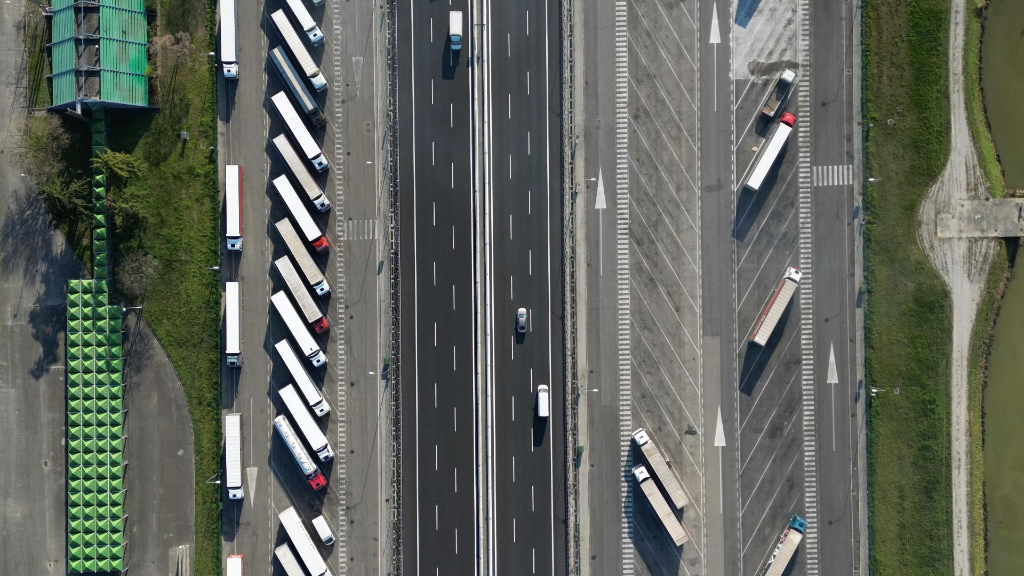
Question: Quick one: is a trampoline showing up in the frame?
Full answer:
No, no trampoline is visible in the view.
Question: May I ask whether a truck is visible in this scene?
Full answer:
Yes, a truck can be made out from above.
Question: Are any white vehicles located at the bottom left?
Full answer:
Yes, you'll find a white vehicle at the bottom left.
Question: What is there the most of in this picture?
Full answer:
For the most part, this view shows paved ground.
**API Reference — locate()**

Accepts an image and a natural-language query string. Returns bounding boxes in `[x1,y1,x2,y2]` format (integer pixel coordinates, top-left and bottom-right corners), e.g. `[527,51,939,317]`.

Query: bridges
[937,198,1024,238]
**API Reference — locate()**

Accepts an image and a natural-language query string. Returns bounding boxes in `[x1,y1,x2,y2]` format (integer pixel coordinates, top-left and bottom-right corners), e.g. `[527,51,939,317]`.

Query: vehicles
[536,384,549,417]
[226,282,243,369]
[226,414,244,502]
[280,506,338,576]
[226,165,243,253]
[632,426,689,509]
[450,12,463,50]
[227,554,245,576]
[313,0,325,6]
[630,462,688,545]
[279,383,338,463]
[273,134,333,215]
[744,110,799,193]
[760,512,810,576]
[275,540,310,576]
[272,92,332,174]
[760,70,796,118]
[516,308,527,332]
[270,289,330,370]
[276,414,330,492]
[286,0,326,48]
[314,516,335,544]
[751,265,805,345]
[271,9,330,93]
[275,217,333,299]
[274,337,333,418]
[270,46,329,129]
[273,175,332,256]
[275,255,332,336]
[220,0,239,81]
